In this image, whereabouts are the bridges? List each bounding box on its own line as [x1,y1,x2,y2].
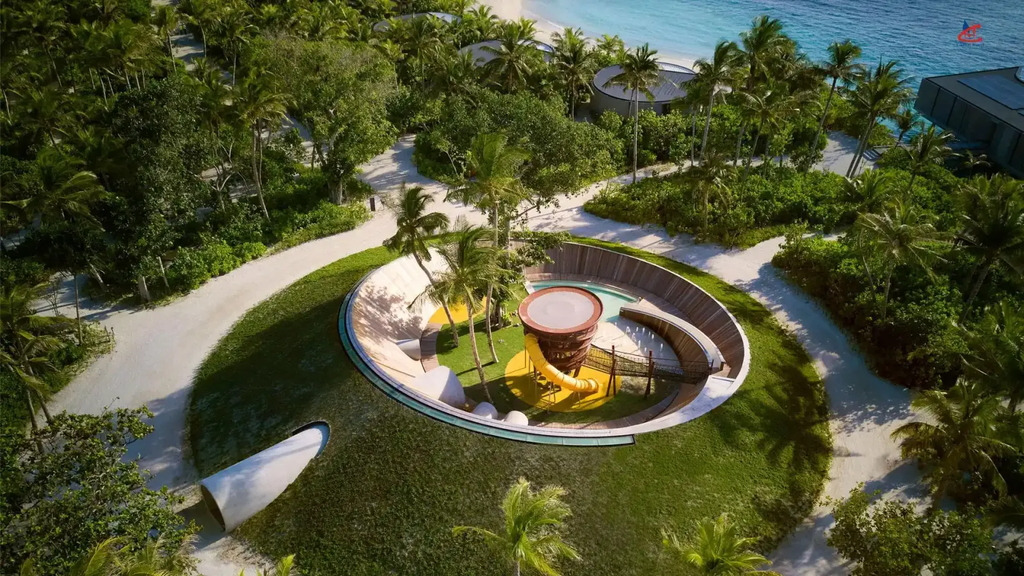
[584,337,717,400]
